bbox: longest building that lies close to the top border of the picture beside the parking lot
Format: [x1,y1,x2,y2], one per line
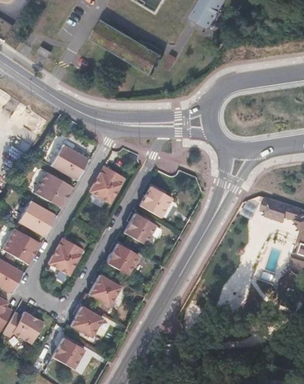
[88,18,161,76]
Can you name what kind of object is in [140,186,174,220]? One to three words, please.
house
